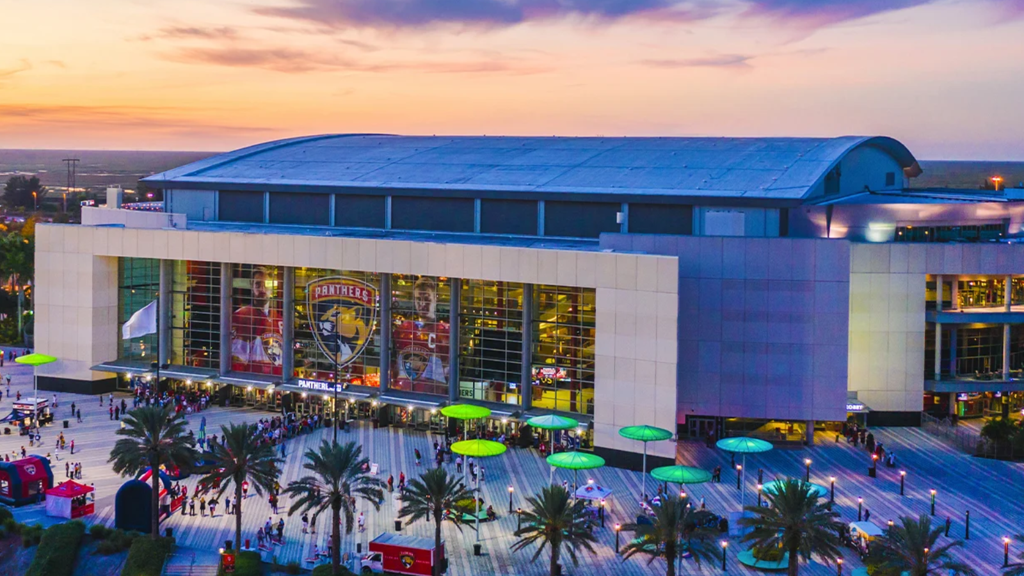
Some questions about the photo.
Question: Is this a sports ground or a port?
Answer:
sports ground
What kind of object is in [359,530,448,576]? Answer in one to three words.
truck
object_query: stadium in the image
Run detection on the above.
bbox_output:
[35,133,1024,474]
